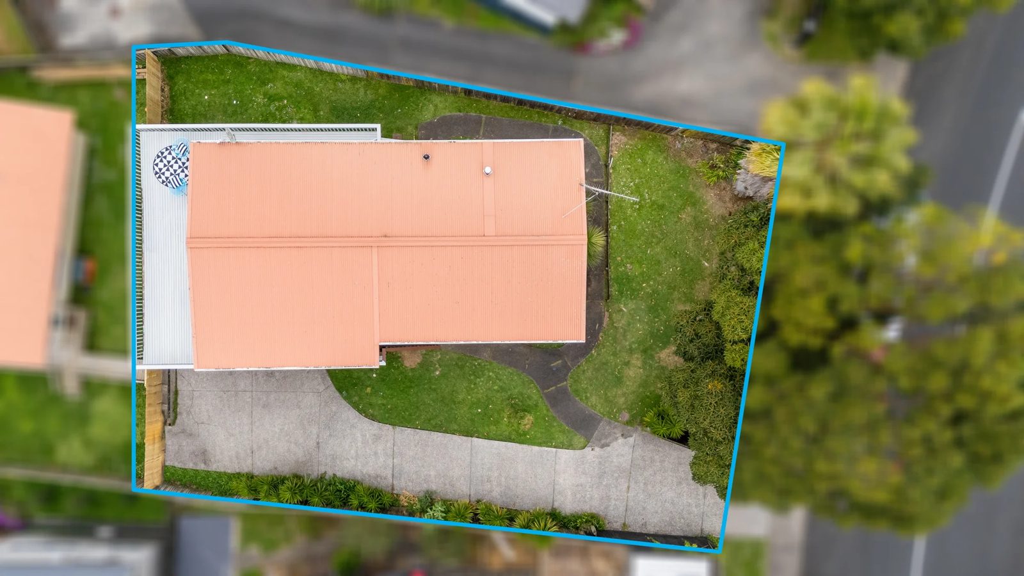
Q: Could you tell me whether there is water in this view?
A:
No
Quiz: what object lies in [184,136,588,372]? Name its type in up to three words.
house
